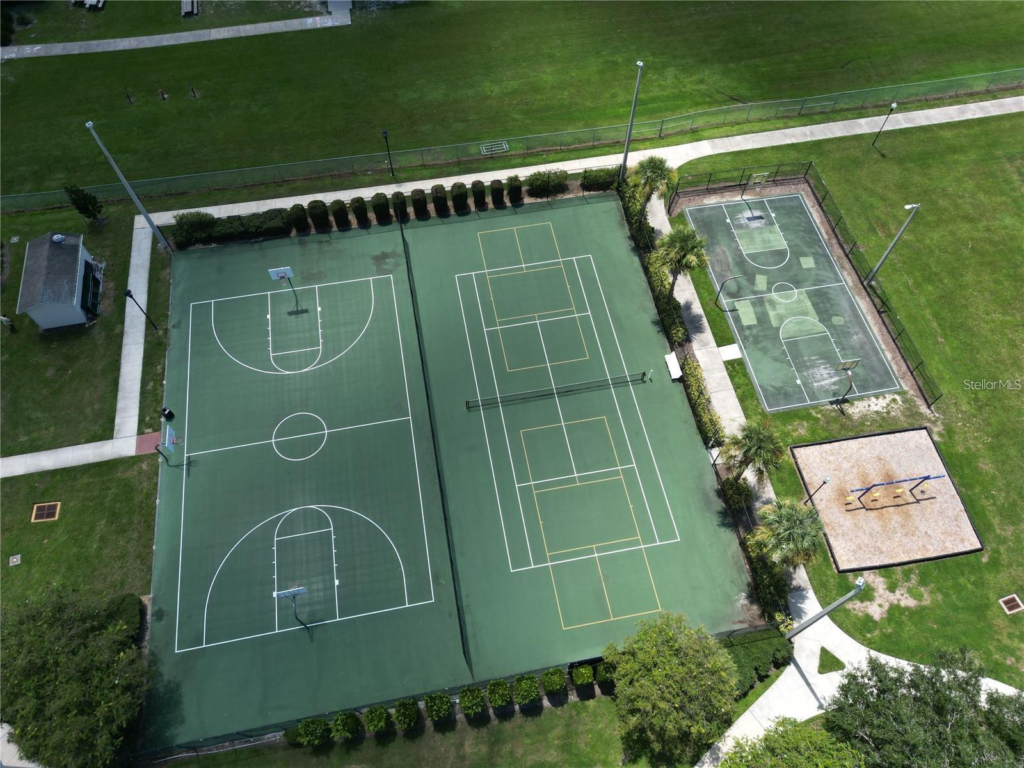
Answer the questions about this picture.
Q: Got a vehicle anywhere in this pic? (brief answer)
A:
No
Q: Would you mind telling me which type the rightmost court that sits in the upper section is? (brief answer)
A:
basketball court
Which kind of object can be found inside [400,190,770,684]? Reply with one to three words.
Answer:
tennis court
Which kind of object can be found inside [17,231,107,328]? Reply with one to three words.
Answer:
shed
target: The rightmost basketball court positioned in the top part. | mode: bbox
[683,191,905,413]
